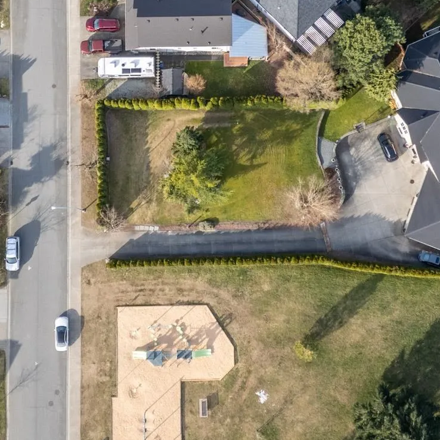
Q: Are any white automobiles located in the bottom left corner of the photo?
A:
Yes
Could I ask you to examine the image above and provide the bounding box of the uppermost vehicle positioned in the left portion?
[87,15,120,33]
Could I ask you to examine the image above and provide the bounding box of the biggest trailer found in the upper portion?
[94,56,154,76]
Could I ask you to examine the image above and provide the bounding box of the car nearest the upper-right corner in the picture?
[376,129,399,164]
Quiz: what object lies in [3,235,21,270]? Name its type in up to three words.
car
